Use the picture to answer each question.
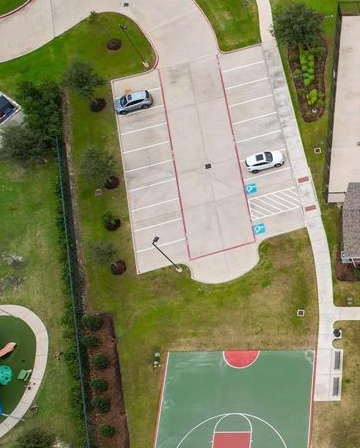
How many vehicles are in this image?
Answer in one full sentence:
In total, there are 2 vehicles in the scene.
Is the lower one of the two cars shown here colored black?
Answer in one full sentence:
No, from above the lower one of the two cars looks white.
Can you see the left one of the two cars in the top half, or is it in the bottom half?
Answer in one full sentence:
It is in the top half that the left one of the two cars appears.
